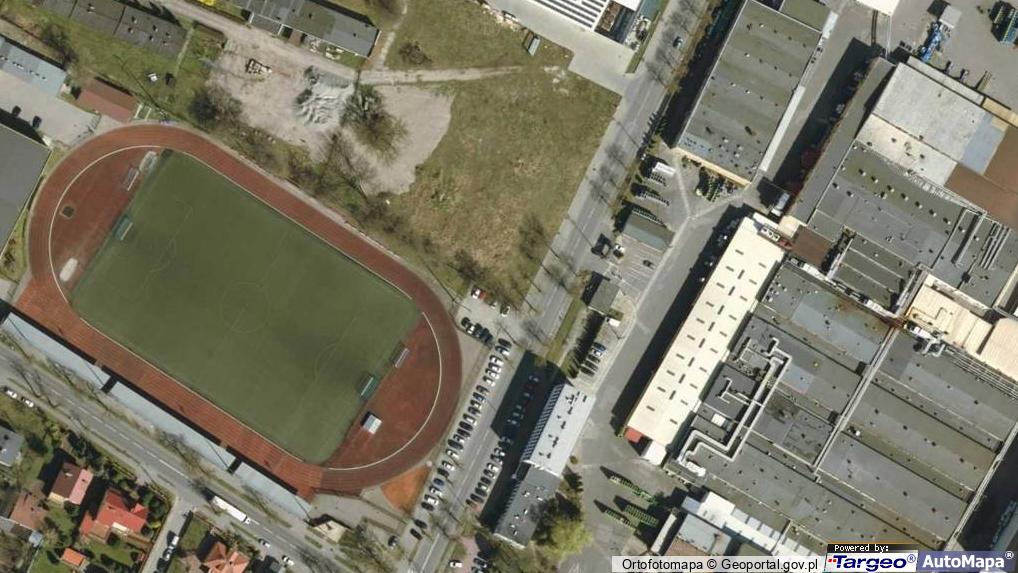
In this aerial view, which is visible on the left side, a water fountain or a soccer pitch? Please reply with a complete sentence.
What appears on the left side is a soccer pitch.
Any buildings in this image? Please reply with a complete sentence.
Yes, a building appears in the view.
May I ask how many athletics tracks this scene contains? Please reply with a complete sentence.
Just 1 athletics track appears in this view.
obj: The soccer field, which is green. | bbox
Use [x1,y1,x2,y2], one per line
[72,148,420,465]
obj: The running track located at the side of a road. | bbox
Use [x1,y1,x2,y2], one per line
[7,120,466,506]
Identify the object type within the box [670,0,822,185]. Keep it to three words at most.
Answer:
warehouse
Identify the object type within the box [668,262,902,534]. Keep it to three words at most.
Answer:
building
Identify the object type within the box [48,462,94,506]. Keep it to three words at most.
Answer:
house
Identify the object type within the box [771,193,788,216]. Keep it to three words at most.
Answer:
vehicle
